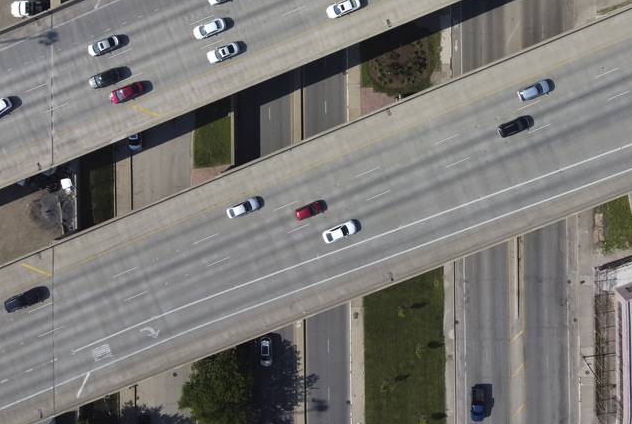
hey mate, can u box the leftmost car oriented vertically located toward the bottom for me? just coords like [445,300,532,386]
[259,335,273,365]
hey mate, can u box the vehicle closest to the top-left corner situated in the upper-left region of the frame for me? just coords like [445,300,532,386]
[9,0,56,18]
